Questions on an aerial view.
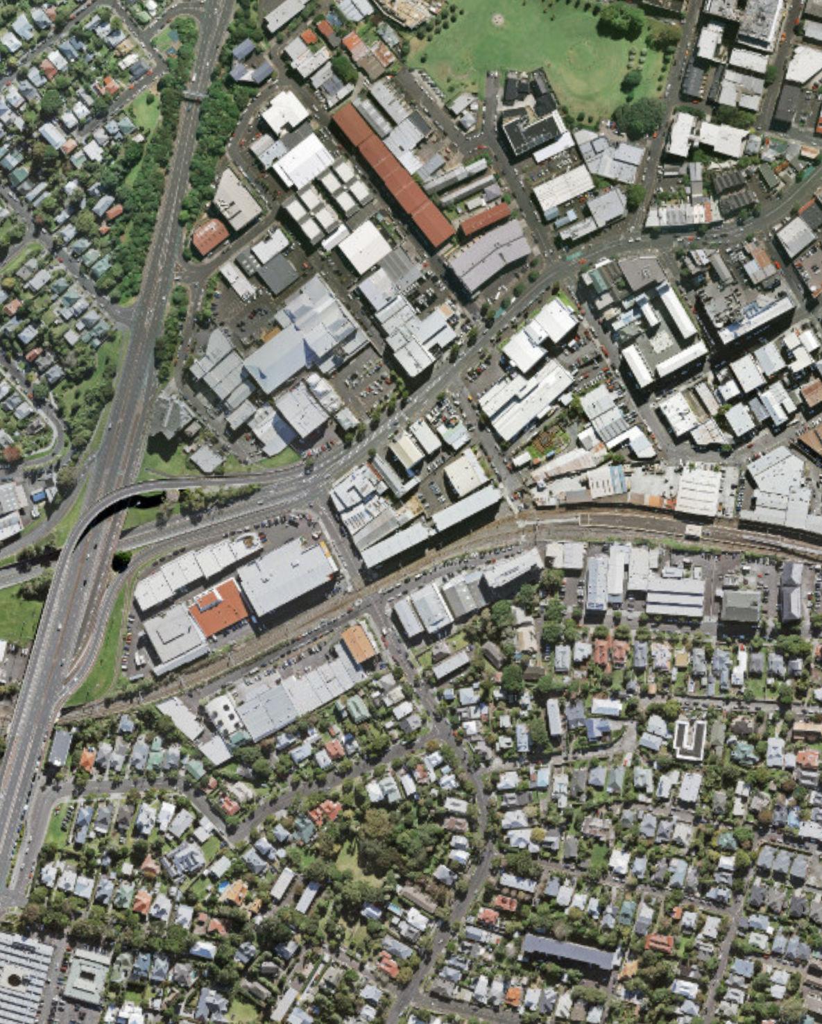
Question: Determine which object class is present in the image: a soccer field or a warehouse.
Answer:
warehouse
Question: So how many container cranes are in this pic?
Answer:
0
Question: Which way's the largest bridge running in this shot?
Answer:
diagonally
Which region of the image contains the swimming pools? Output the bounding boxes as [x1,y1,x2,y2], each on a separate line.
[216,880,229,892]
[387,903,402,915]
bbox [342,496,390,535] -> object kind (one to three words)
building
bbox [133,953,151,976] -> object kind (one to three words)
house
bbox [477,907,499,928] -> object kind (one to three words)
house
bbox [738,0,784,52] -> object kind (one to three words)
building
